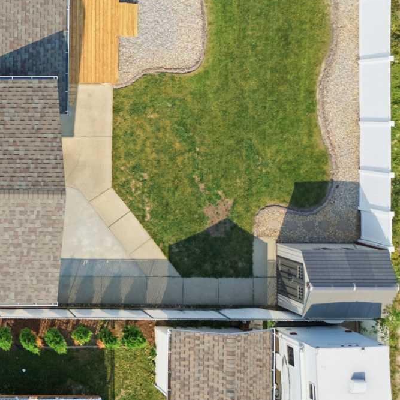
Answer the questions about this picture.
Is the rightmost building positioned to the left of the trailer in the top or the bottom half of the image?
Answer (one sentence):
You can find the rightmost building positioned to the left of the trailer in the bottom half.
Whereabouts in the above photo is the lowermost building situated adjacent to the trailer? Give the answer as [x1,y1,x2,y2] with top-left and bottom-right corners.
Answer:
[154,325,273,400]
